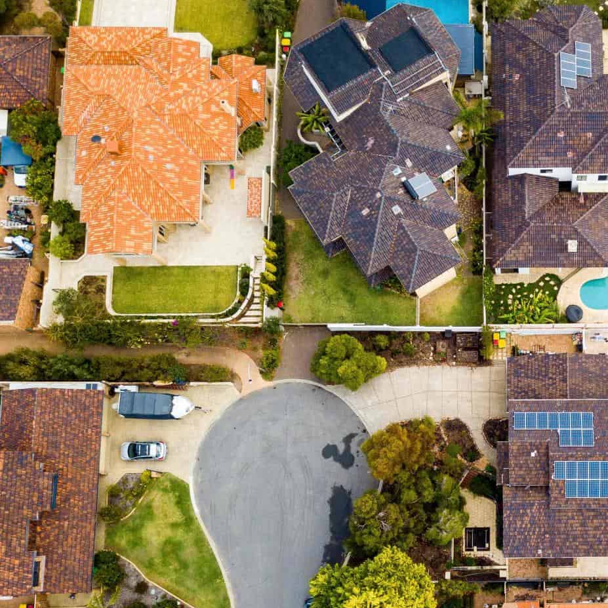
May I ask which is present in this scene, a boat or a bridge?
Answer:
boat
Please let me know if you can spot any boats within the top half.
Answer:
No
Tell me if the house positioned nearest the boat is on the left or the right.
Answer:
left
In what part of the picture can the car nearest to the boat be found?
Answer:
bottom left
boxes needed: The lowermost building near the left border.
[0,387,111,600]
